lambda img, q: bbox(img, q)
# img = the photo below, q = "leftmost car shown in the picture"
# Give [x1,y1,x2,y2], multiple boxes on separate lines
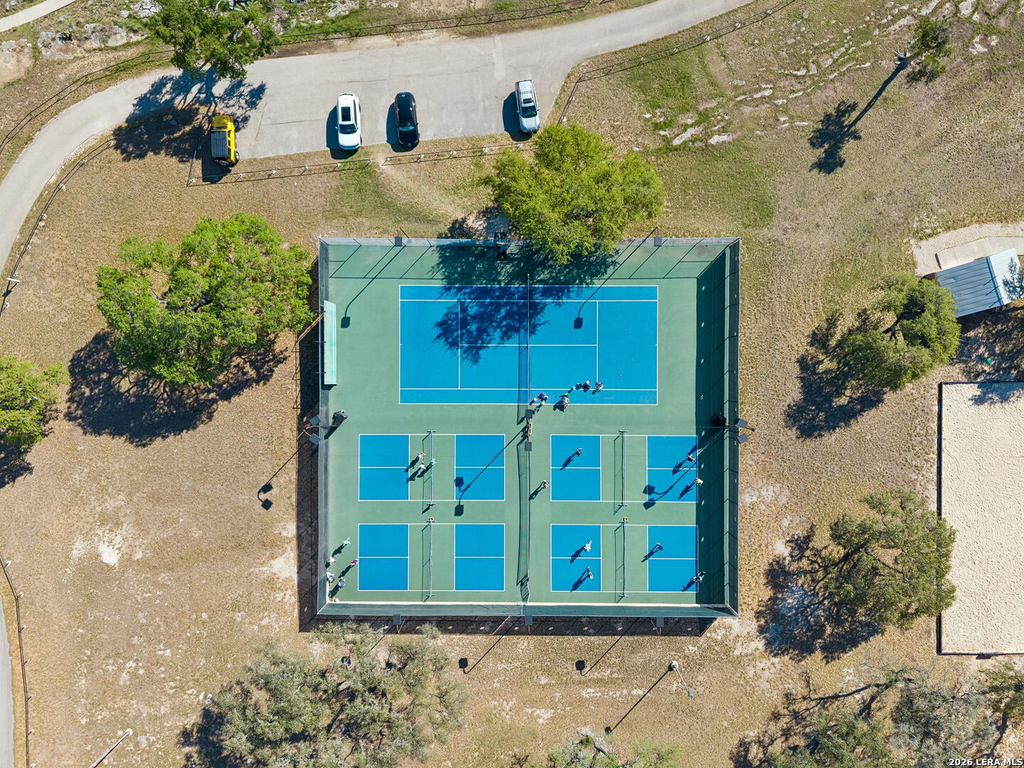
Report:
[211,120,240,169]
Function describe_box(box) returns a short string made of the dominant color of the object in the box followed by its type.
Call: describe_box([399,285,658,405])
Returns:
blue tennis court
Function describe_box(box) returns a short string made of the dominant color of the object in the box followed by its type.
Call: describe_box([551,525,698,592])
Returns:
blue sports court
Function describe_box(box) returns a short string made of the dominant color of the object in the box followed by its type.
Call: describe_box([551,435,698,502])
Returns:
blue sports court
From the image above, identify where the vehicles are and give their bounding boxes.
[211,120,240,169]
[516,82,542,137]
[397,93,421,147]
[338,94,363,149]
